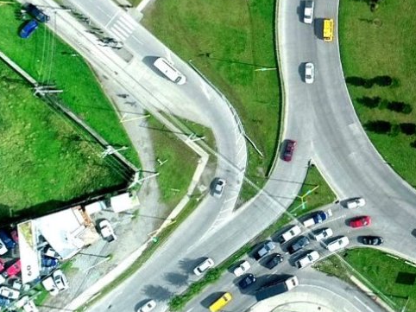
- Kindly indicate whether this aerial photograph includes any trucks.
Yes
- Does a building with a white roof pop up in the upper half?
No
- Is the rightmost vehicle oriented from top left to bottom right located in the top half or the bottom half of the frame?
top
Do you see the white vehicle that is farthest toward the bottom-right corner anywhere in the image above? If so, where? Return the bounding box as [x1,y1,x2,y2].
[326,235,351,254]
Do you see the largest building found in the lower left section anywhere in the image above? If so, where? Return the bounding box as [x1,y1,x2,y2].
[34,208,93,261]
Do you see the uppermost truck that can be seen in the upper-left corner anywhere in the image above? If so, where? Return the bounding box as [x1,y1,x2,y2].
[21,1,50,23]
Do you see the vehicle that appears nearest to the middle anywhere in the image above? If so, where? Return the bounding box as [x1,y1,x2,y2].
[212,177,226,197]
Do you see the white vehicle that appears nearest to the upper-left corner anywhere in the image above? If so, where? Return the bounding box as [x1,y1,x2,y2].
[149,56,189,86]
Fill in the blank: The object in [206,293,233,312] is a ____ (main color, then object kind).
yellow vehicle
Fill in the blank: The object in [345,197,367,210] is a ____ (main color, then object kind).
white vehicle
